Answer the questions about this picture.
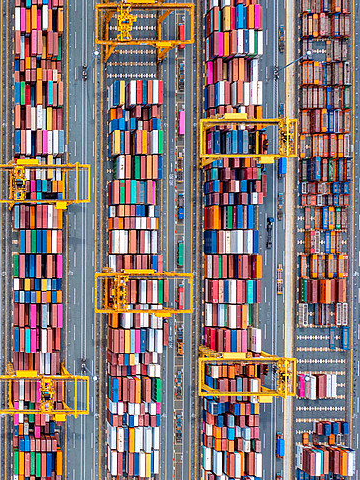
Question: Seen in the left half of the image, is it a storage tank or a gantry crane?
gantry crane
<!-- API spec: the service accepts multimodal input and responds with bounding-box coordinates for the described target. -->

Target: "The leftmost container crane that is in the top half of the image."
[0,158,90,210]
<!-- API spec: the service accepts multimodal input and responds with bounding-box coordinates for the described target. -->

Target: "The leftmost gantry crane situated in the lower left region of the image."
[0,360,89,422]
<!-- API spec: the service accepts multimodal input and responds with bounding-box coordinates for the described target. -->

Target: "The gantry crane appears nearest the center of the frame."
[95,263,194,321]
